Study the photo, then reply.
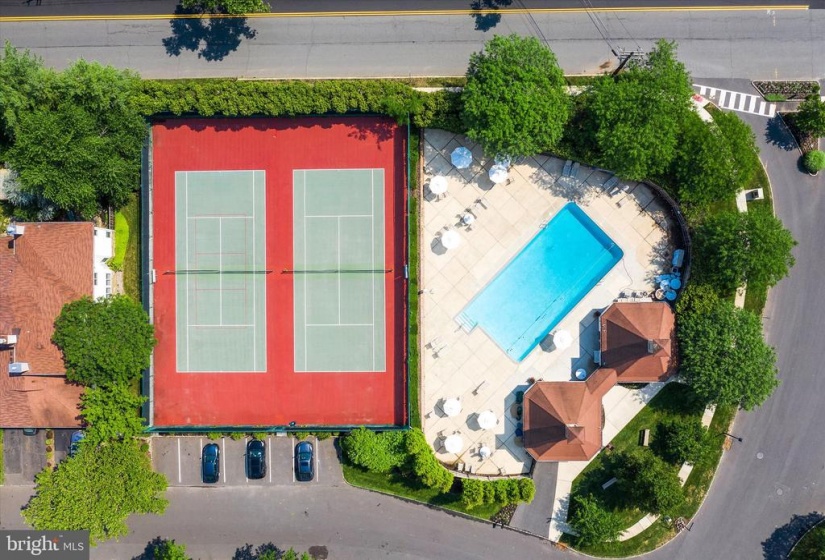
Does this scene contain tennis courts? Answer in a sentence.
Yes, a tennis court appears in the view.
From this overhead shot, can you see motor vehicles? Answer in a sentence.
Yes, a motor vehicle can be made out from above.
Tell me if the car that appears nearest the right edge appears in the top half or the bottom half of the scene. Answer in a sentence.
You can find the car that appears nearest the right edge in the bottom half.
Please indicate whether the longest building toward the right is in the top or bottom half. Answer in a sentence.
The bottom half of the photo is where the longest building toward the right is.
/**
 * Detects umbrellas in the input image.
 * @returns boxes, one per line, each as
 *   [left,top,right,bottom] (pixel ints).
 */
[451,147,471,168]
[442,230,459,248]
[429,176,448,194]
[553,330,572,349]
[495,152,512,168]
[443,398,462,417]
[489,164,508,183]
[445,434,463,452]
[477,409,497,429]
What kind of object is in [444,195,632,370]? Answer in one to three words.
swimming pool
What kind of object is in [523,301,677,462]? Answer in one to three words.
building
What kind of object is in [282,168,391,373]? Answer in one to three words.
tennis court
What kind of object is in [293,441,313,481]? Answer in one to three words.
car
